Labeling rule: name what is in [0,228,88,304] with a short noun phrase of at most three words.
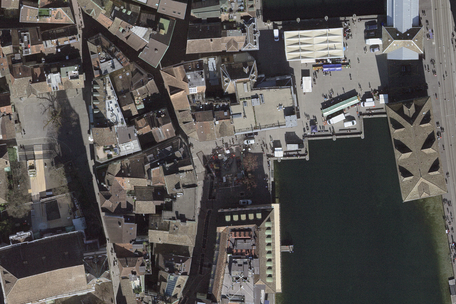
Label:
building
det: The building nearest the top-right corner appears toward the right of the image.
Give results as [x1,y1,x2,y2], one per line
[382,0,424,60]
